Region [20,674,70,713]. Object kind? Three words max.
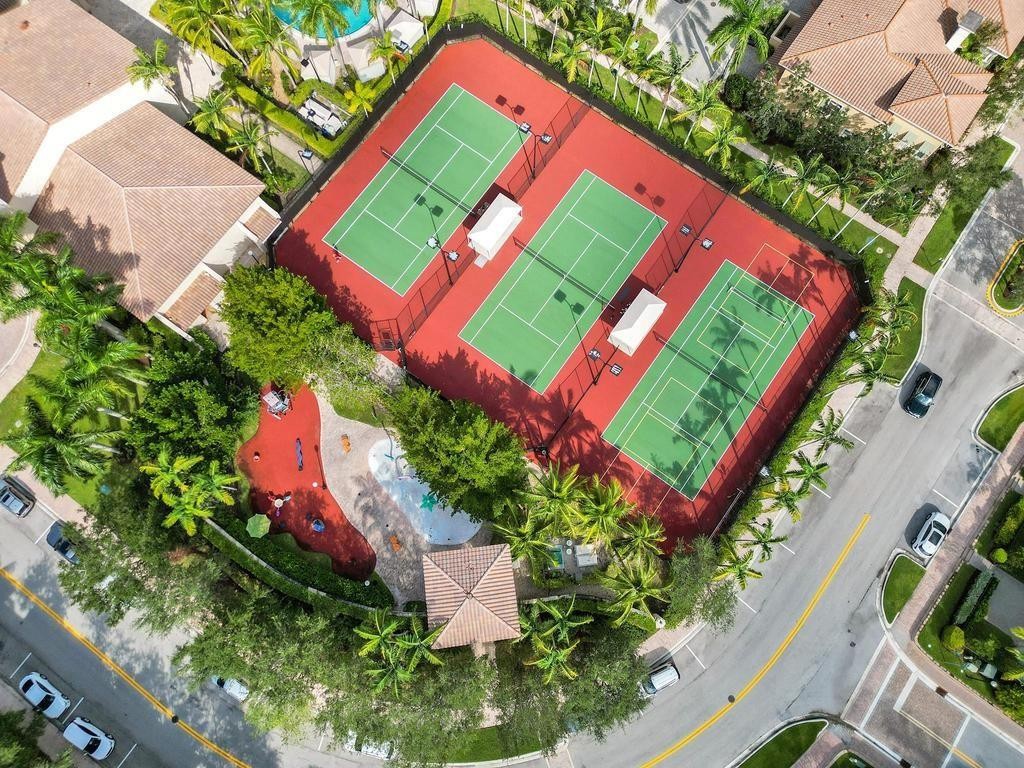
car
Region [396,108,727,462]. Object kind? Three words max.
tennis court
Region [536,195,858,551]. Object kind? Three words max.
tennis court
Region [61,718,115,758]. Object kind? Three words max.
car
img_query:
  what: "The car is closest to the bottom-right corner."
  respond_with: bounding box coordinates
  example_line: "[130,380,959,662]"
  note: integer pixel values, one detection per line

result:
[911,513,952,561]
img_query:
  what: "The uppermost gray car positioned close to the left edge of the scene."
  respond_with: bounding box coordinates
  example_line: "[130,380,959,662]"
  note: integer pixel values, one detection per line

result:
[0,475,38,516]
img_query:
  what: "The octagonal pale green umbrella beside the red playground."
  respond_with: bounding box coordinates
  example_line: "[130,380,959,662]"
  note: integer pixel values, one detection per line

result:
[247,512,273,539]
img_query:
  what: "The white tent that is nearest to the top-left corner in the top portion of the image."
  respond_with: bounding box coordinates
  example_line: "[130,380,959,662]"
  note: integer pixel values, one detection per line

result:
[462,193,524,265]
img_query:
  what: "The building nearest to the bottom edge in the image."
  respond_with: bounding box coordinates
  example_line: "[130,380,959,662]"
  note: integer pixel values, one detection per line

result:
[422,543,521,648]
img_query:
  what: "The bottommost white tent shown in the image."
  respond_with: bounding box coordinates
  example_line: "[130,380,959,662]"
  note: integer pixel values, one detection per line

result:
[605,288,668,361]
